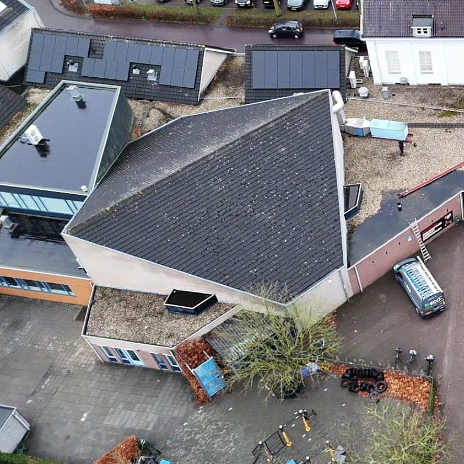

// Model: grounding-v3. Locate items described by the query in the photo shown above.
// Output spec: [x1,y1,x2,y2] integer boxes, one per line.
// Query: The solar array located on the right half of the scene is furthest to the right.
[249,51,340,88]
